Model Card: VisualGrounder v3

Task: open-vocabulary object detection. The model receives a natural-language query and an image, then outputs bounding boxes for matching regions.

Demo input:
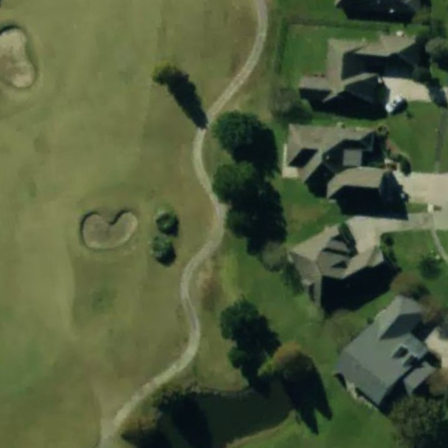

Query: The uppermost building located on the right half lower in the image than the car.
[288,124,393,206]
